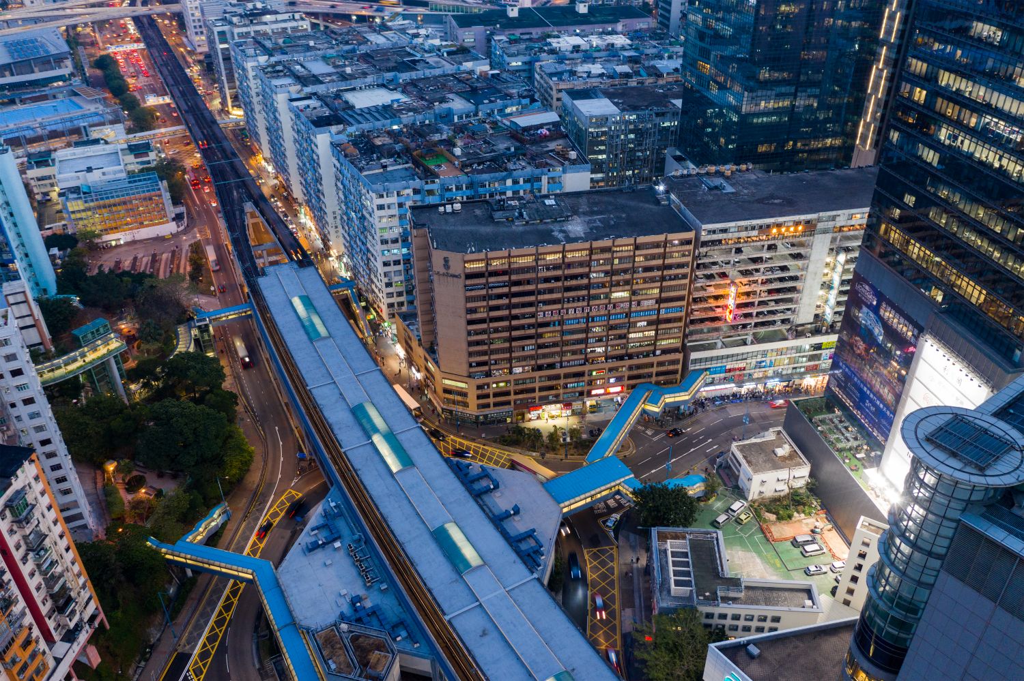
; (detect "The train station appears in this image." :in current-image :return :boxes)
[247,265,625,681]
